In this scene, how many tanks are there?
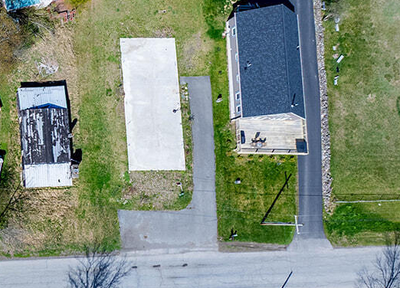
zero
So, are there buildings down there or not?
Yes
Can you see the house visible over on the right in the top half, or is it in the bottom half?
top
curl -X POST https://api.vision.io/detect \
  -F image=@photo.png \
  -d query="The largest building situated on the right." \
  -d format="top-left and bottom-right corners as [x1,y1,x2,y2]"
[222,8,310,153]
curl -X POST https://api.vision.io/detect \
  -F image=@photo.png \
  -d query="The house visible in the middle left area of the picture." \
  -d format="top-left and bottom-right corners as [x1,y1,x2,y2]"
[16,86,80,186]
